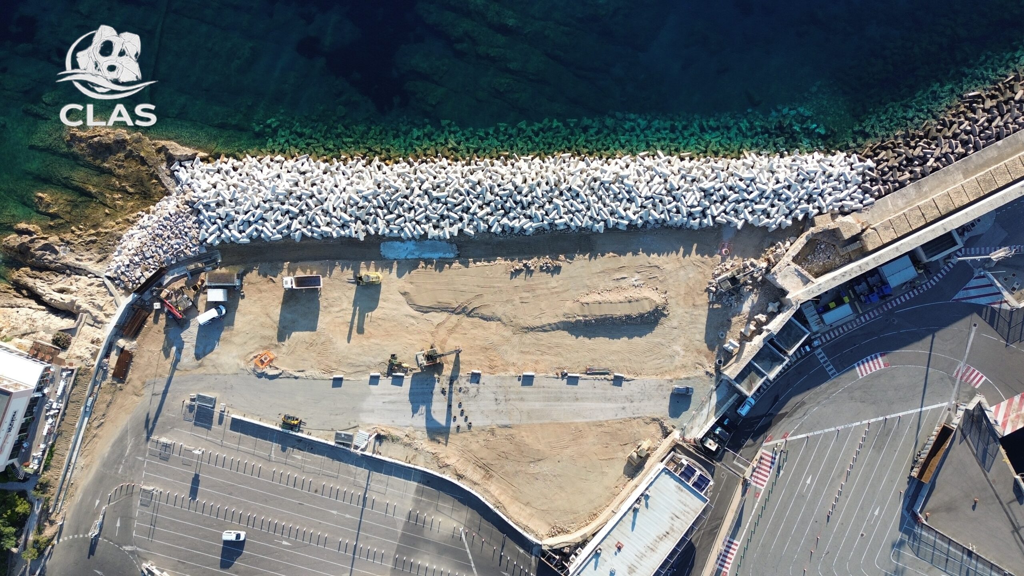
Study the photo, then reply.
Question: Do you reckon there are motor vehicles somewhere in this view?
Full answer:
Yes, I can see a motor vehicle in this picture.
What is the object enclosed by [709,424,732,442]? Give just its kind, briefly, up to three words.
car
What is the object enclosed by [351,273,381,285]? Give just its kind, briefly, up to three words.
vehicle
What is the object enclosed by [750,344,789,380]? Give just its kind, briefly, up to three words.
building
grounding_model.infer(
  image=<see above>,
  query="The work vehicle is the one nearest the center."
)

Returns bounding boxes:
[411,343,467,368]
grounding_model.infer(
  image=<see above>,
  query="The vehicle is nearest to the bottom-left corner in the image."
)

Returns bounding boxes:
[223,529,247,542]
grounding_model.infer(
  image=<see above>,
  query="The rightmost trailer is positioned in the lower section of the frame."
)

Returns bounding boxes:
[904,420,955,483]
